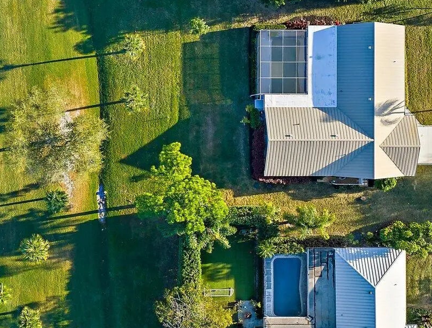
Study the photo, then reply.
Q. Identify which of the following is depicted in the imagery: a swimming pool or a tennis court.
swimming pool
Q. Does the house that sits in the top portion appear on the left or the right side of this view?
right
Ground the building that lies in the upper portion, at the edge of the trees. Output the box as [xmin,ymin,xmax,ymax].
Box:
[262,22,422,180]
